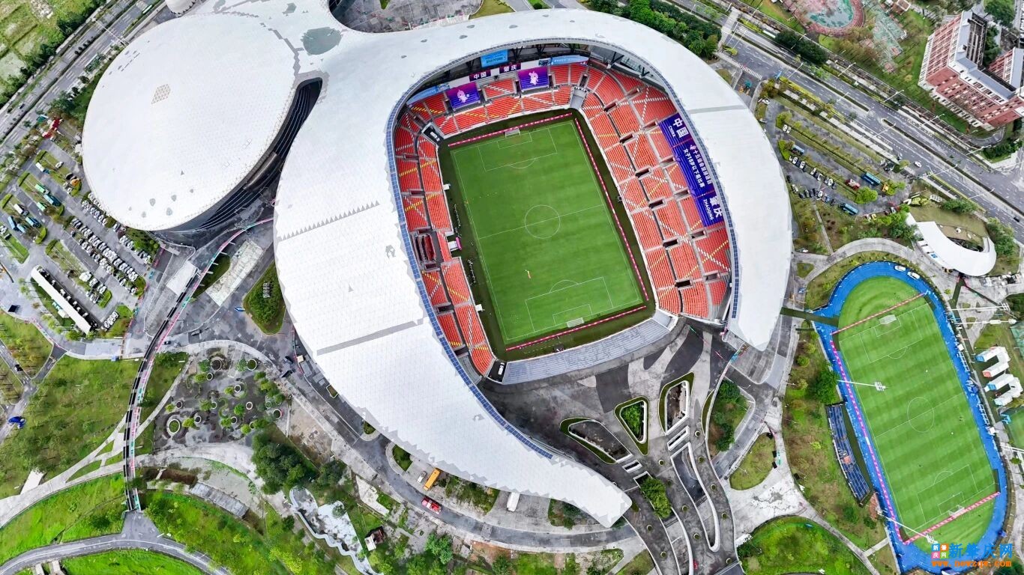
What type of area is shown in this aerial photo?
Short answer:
sports ground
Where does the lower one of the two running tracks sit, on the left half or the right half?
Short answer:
right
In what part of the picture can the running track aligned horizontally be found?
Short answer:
top right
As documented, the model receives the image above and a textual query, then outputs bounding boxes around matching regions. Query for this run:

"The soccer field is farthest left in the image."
[446,116,645,347]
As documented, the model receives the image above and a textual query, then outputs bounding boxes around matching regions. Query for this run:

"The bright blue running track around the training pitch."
[812,261,1008,575]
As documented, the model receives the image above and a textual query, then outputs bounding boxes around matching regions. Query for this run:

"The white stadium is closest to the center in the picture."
[196,0,793,527]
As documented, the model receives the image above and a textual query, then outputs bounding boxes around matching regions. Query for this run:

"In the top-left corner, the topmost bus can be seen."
[135,0,159,20]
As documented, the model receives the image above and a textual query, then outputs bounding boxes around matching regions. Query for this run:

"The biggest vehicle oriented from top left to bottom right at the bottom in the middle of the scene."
[421,496,441,513]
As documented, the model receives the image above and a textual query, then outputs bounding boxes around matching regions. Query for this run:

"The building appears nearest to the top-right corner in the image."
[913,10,1024,122]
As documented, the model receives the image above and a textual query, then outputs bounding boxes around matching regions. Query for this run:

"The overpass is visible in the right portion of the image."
[714,7,764,70]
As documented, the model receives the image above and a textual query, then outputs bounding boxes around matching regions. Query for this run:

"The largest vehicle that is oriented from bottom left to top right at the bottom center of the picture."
[423,467,442,493]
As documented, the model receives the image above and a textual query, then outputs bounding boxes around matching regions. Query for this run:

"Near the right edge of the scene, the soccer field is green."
[835,275,995,553]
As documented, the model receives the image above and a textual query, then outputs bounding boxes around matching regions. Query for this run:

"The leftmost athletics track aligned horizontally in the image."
[784,0,865,36]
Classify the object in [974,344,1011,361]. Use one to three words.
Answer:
tent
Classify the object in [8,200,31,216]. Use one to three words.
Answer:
vehicle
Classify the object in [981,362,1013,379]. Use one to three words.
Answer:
tent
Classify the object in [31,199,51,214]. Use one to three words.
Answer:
vehicle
